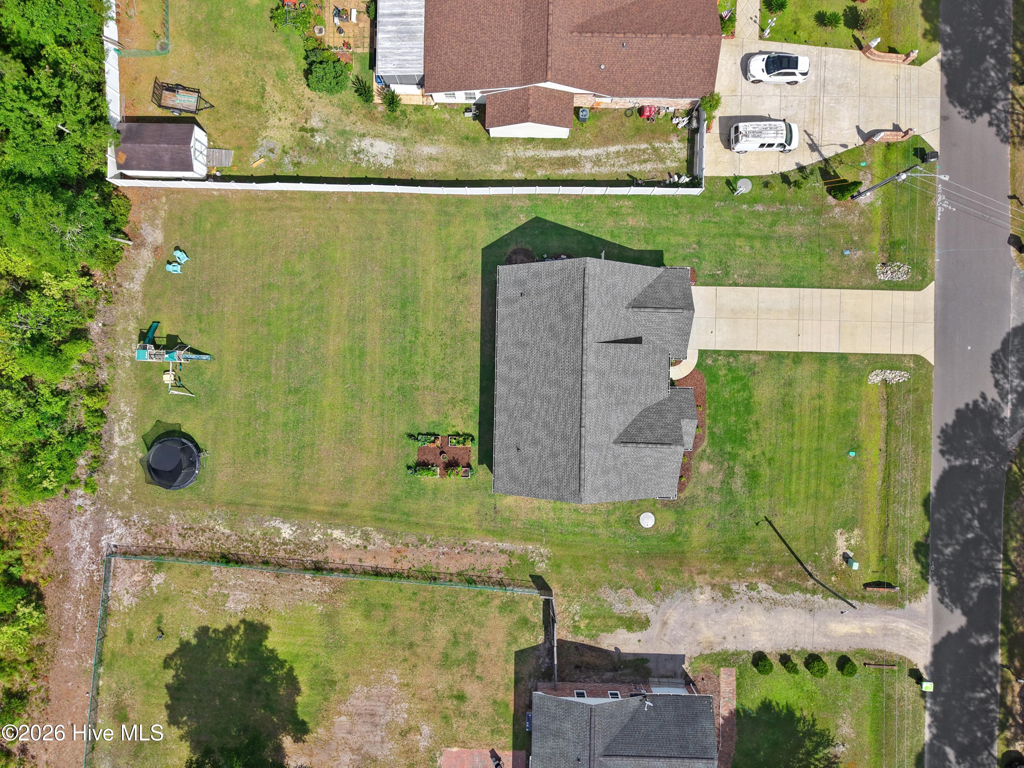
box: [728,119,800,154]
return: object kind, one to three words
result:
van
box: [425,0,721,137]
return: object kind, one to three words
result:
house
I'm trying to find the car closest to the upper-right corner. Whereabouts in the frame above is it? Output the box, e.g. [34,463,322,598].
[748,51,812,85]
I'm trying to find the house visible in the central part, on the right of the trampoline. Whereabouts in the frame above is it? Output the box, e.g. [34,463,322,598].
[491,250,698,503]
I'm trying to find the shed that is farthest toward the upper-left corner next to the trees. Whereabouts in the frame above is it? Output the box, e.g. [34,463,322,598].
[107,124,207,177]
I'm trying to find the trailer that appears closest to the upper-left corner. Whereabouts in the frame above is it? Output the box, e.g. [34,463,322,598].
[144,73,215,113]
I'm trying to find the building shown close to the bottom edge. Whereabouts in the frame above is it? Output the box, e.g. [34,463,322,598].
[530,682,721,768]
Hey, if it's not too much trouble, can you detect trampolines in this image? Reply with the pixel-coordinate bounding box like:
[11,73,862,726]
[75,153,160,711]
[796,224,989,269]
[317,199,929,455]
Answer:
[138,436,204,490]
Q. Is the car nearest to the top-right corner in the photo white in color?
Yes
